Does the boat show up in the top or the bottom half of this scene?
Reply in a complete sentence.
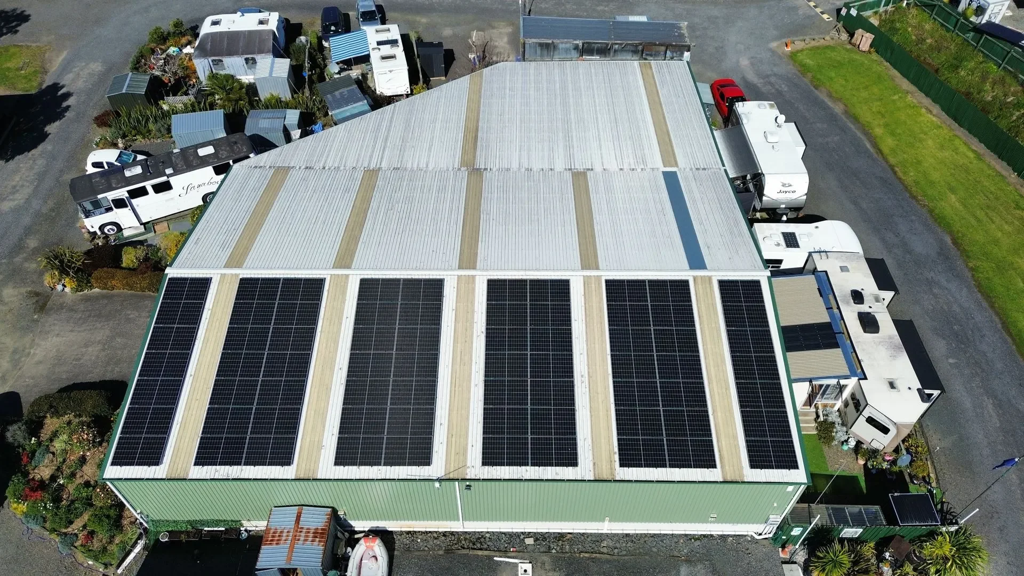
You can find the boat in the bottom half.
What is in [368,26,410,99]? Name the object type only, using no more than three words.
camper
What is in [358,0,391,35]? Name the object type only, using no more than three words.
car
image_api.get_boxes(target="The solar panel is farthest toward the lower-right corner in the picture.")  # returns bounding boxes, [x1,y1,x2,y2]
[883,492,939,526]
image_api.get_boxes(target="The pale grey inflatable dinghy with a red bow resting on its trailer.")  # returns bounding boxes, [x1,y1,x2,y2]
[348,534,387,576]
